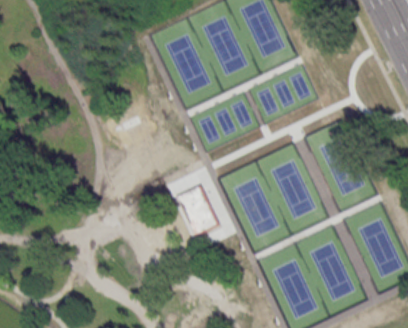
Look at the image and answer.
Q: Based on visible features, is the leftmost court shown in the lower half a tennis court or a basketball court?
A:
tennis court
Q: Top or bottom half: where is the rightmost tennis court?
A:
bottom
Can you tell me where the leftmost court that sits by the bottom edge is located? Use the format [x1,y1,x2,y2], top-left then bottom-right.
[258,244,330,328]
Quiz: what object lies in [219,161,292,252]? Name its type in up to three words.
tennis court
